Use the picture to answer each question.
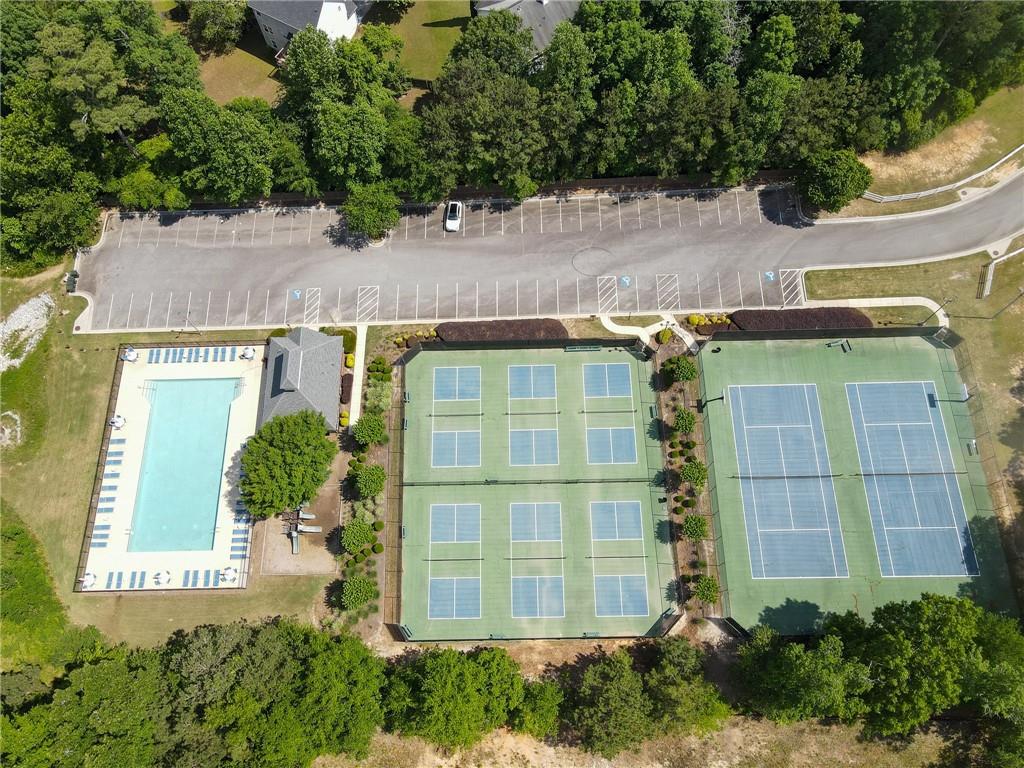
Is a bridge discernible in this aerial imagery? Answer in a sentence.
No, the photo shows no bridge.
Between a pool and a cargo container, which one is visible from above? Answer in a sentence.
Looking from above, you can make out a pool.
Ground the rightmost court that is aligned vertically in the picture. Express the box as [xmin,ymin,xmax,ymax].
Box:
[846,382,980,577]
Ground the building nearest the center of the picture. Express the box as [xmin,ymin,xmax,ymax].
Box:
[260,327,345,434]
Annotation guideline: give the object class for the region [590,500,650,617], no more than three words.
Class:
sports court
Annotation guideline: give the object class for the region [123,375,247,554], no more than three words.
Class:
swimming pool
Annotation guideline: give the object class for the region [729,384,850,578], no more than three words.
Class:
tennis court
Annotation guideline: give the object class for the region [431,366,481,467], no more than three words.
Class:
sports court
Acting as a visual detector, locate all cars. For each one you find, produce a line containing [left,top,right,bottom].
[445,203,462,233]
